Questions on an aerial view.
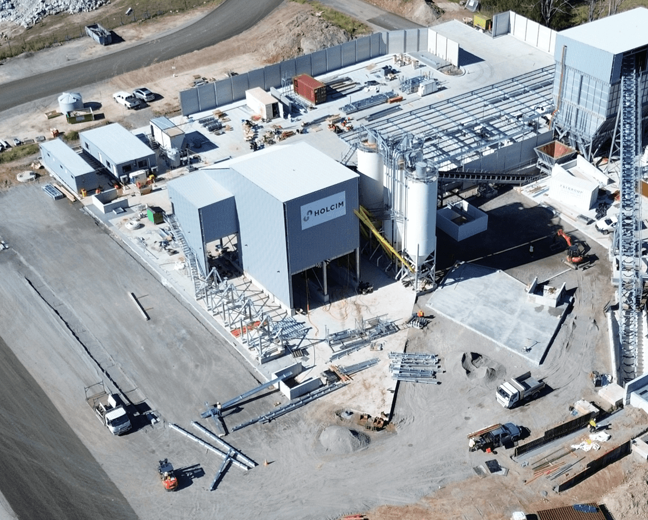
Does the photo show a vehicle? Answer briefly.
Yes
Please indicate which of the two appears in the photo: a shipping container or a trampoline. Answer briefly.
shipping container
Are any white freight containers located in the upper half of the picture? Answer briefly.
Yes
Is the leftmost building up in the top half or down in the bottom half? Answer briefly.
top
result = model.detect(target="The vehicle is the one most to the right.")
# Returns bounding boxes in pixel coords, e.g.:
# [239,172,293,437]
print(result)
[591,211,626,231]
